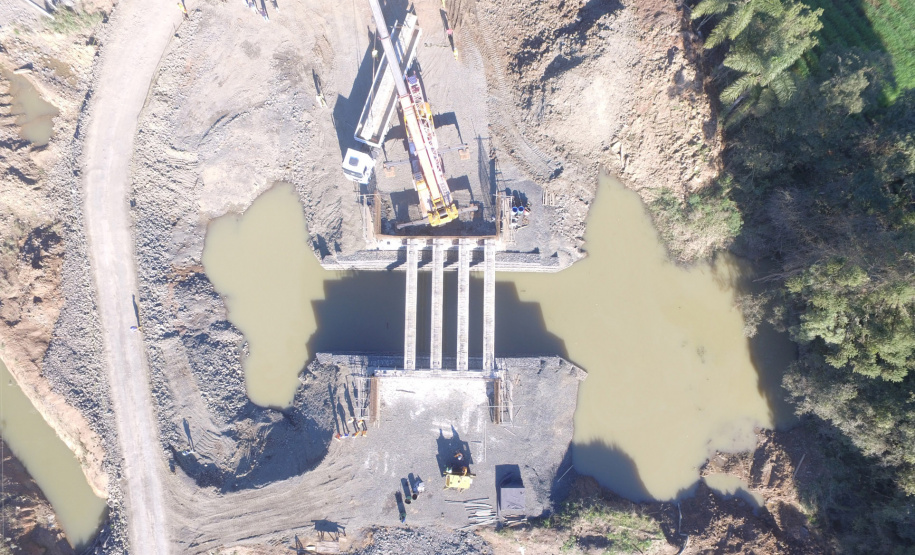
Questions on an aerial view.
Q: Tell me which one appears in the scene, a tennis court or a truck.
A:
truck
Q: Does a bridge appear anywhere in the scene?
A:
Yes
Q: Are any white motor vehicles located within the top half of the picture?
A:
Yes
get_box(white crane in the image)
[367,0,483,233]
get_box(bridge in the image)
[366,232,503,373]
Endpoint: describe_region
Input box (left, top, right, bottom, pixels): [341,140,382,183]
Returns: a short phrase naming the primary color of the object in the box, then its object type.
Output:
white truck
